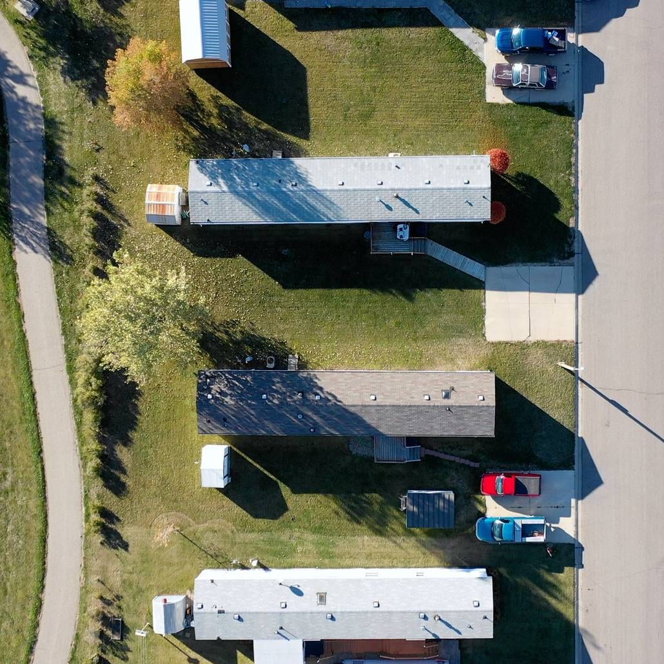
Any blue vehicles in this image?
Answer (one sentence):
Yes, looking at the shot, I can spot a blue vehicle.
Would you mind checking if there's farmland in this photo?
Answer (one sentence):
No, farmland can't be seen anywhere here.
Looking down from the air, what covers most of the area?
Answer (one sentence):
The scene is dominated by paved ground.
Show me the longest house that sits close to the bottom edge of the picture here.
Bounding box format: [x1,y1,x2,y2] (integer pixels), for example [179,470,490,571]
[193,569,494,641]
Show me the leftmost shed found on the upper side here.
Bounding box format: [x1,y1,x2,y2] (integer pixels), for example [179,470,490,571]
[140,184,185,225]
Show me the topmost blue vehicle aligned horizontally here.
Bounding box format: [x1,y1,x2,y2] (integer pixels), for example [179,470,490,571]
[494,24,567,55]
